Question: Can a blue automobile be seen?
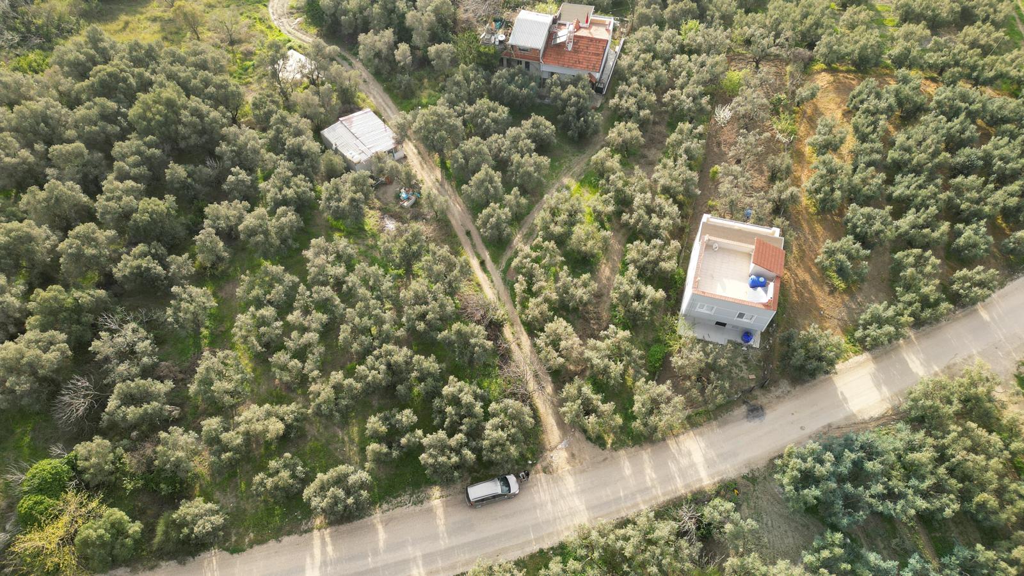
No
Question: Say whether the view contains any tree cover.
Yes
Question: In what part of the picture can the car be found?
bottom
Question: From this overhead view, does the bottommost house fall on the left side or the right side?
right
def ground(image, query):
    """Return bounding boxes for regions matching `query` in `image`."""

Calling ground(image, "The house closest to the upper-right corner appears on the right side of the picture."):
[677,216,786,349]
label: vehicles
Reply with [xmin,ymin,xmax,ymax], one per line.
[464,471,520,502]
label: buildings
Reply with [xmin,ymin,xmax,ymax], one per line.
[500,2,616,97]
[324,105,402,177]
[677,216,786,349]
